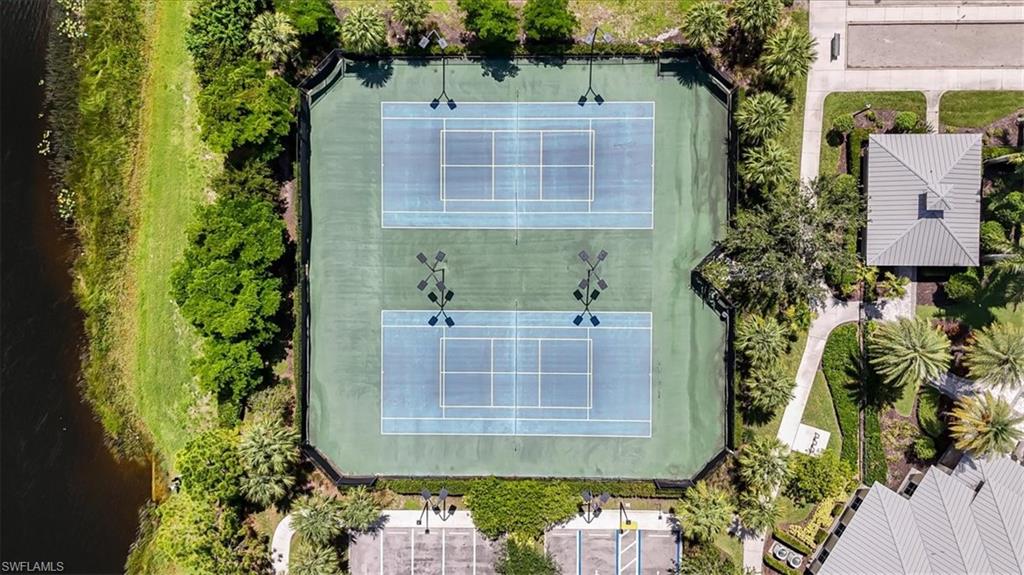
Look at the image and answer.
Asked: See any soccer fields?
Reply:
No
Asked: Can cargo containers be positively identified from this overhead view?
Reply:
No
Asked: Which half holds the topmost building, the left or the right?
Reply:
right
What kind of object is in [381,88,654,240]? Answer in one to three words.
tennis court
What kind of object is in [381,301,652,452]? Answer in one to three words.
tennis court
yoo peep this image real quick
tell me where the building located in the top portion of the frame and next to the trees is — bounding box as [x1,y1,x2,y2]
[859,133,981,267]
